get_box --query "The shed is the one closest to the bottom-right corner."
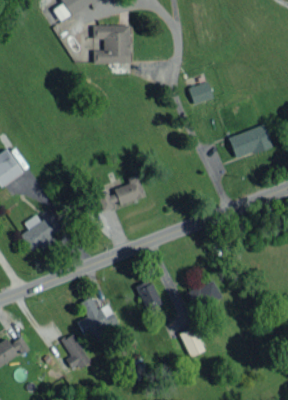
[180,328,206,358]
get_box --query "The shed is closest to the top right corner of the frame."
[189,82,214,104]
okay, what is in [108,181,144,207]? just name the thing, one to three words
house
